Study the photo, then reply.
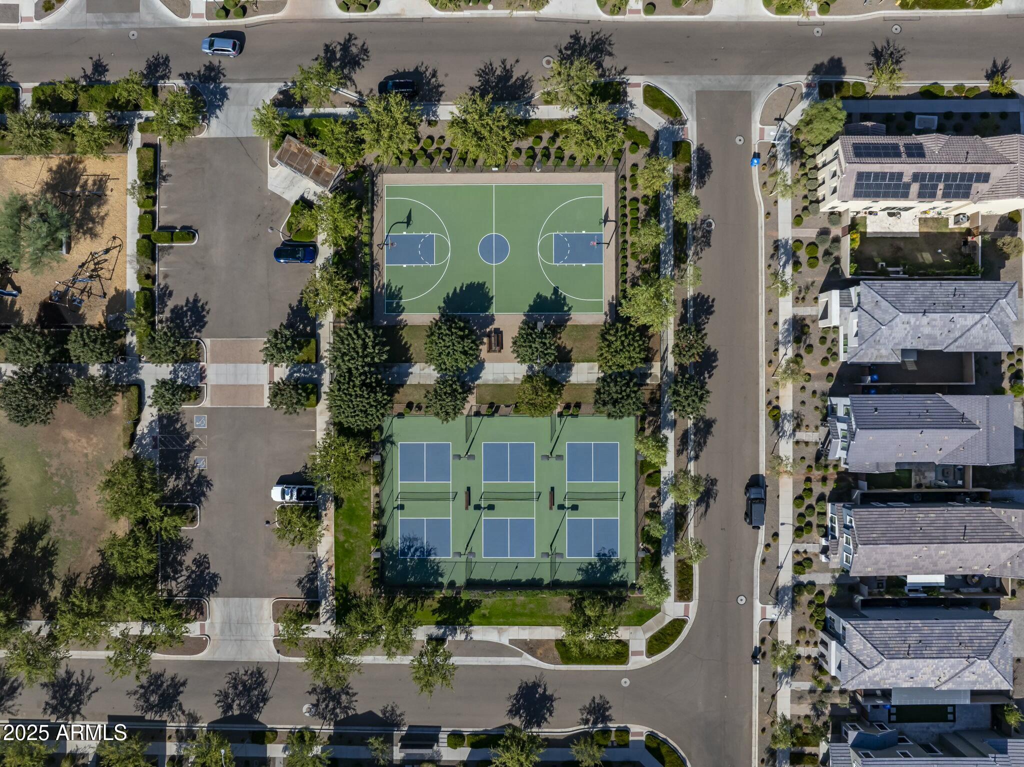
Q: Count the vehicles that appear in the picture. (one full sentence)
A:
My tally gives 5 vehicles in this view.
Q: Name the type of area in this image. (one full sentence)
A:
It's a residential area.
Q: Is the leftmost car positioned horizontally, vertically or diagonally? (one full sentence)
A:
In this picture, the leftmost car lies horizontally.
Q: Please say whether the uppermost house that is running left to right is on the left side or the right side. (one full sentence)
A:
The uppermost house that is running left to right is on the right side of the image.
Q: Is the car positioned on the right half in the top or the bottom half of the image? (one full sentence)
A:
You can find the car positioned on the right half in the bottom half.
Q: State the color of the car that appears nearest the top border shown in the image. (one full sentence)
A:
In this view, the car that appears nearest the top border is blue.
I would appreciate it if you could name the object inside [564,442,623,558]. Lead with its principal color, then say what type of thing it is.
blue sports court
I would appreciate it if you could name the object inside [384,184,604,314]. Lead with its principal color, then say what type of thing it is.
green basketball court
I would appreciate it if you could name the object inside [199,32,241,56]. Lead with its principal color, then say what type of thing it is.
blue car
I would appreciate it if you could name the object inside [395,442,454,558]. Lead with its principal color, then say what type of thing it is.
blue sports court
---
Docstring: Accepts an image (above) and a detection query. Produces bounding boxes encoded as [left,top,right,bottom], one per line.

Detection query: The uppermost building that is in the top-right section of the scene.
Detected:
[818,111,1024,212]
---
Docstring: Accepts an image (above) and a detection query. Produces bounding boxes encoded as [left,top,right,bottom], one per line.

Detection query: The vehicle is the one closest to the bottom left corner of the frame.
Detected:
[269,484,317,504]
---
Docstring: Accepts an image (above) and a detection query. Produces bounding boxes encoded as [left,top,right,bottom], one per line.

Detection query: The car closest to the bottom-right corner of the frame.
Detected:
[743,478,765,522]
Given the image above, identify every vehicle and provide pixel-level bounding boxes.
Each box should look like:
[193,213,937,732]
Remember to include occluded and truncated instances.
[274,245,315,265]
[269,484,317,504]
[743,478,765,522]
[377,77,420,99]
[199,32,241,56]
